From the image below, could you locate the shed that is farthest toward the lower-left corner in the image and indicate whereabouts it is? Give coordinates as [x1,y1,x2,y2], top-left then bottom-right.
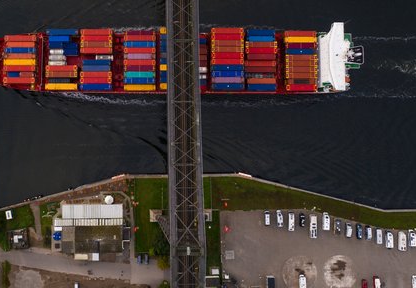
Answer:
[7,228,29,248]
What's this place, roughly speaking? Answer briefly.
port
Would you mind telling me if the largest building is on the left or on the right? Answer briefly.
left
